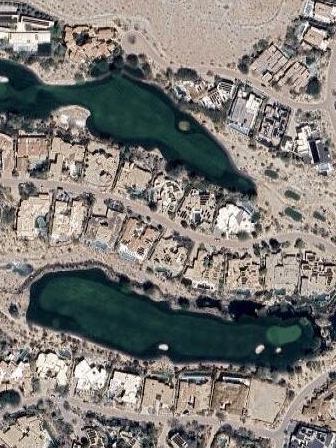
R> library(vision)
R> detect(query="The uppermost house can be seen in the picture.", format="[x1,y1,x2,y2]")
[305,0,336,20]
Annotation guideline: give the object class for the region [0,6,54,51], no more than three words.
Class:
house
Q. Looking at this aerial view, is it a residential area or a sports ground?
residential area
